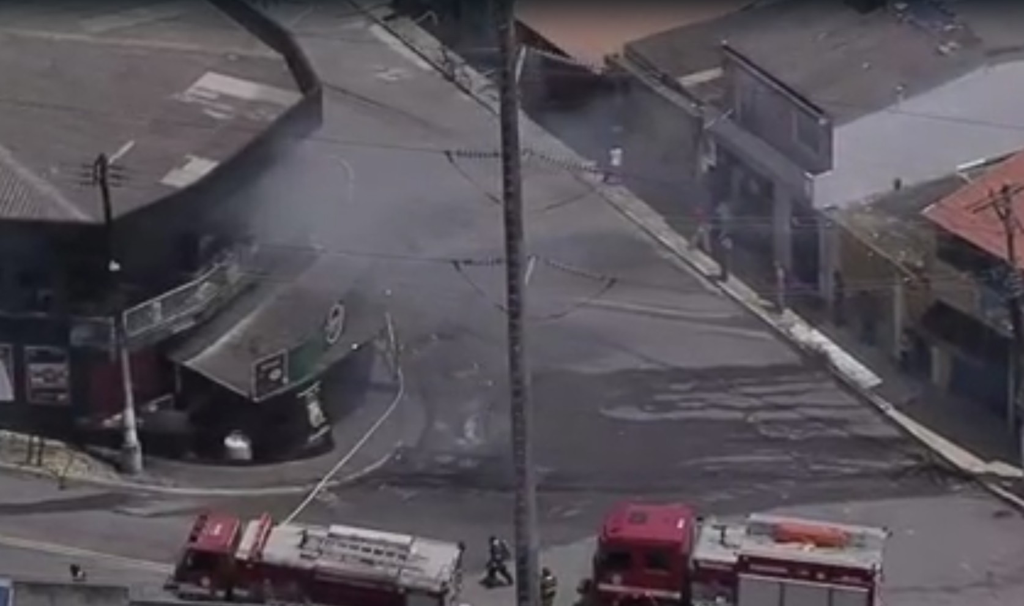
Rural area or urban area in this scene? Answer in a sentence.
The area is urban.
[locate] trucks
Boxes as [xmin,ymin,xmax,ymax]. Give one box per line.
[587,499,893,606]
[158,511,469,606]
